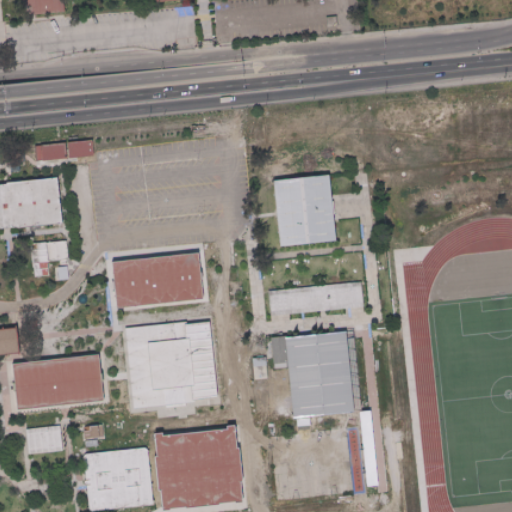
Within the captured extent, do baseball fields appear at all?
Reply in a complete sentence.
No, no baseball field is visible in the scene.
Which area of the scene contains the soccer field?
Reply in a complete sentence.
You can find the soccer field in the bottom right area of the picture.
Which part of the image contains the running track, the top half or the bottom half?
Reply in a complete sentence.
Seen from above, the running track lies in the bottom half of the view.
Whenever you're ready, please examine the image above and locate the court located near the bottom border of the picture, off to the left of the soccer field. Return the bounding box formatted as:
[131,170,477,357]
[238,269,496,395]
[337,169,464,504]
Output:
[274,432,350,500]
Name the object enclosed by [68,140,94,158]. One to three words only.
shed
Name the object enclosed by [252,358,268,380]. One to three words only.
shed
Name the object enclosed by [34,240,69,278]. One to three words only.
building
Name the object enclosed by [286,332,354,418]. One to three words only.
building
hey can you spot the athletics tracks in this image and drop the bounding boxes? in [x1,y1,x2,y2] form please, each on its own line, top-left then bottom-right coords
[404,221,512,512]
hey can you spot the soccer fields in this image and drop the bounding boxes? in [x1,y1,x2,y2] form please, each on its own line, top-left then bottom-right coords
[428,294,512,507]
